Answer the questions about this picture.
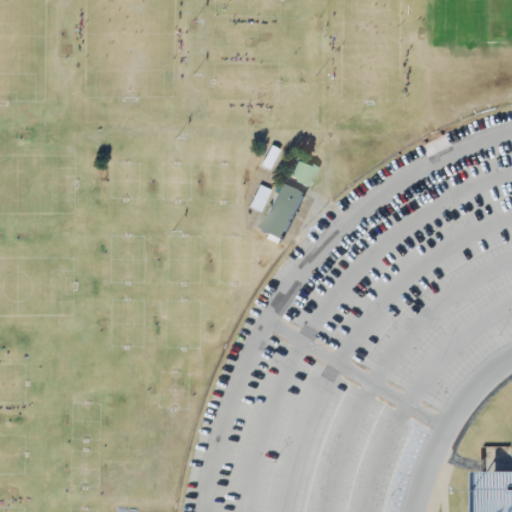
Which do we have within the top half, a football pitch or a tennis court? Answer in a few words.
football pitch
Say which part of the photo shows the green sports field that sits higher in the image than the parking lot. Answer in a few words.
top right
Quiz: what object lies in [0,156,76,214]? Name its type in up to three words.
soccer field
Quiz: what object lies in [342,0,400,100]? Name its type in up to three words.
soccer field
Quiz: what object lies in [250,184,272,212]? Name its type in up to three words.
shed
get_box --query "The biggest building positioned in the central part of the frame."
[259,184,305,244]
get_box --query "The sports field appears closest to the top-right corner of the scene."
[430,0,512,50]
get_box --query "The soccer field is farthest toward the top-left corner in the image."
[0,0,46,102]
